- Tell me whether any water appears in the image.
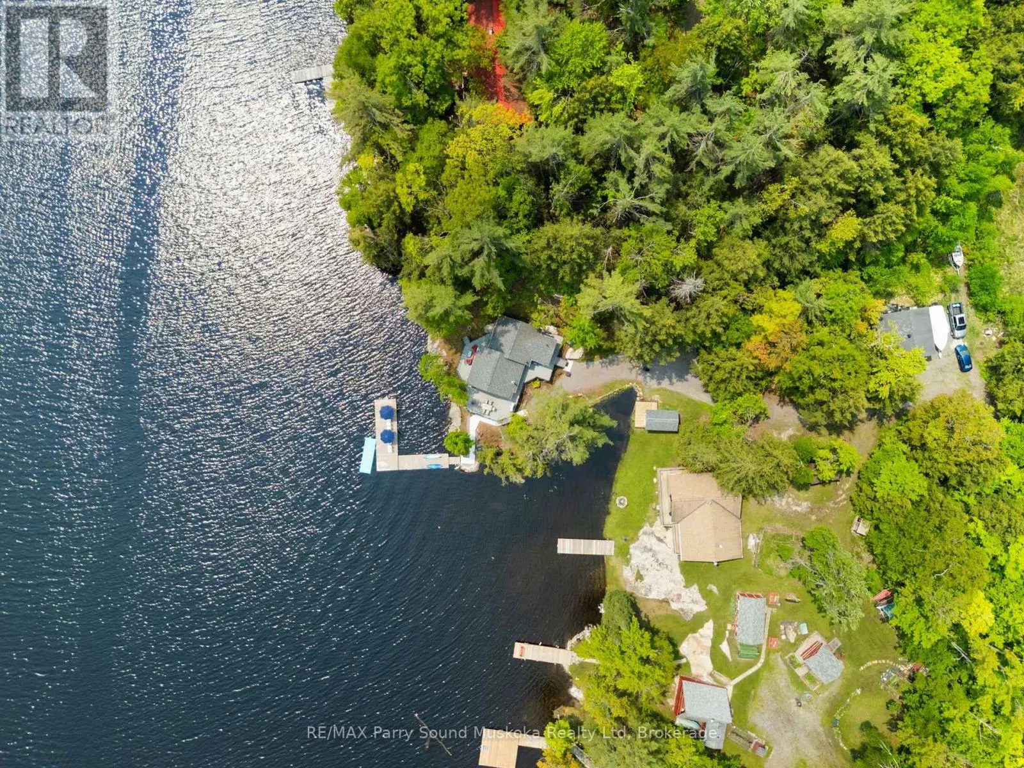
Yes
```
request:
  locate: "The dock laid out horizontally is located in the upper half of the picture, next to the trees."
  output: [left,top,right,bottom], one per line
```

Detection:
[293,62,339,85]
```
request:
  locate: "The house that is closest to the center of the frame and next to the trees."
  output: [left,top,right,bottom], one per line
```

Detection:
[458,317,572,421]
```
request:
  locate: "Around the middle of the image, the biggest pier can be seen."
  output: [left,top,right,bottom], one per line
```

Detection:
[373,399,461,471]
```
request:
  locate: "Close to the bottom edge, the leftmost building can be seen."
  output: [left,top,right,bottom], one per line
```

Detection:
[675,674,732,749]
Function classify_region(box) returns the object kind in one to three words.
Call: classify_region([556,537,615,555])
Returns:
pier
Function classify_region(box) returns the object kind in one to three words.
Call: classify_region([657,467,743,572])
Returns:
house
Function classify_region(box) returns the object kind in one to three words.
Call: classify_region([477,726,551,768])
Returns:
pier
